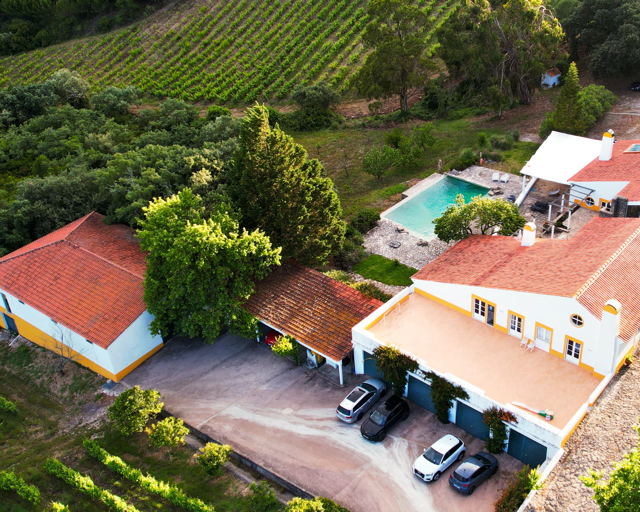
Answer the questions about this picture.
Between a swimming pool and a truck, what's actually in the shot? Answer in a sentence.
It is a swimming pool that can be seen here.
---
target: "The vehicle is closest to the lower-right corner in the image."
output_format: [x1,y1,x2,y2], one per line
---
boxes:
[445,444,505,496]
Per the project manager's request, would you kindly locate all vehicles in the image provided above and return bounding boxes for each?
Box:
[356,393,413,444]
[409,431,468,484]
[261,324,281,340]
[333,375,390,426]
[445,444,505,496]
